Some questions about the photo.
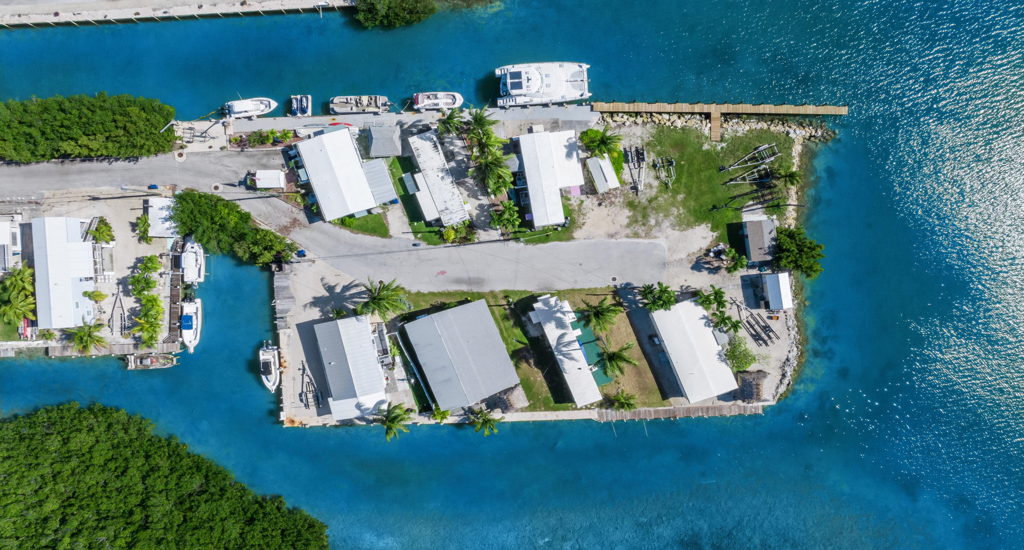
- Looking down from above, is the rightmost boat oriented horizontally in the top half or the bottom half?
top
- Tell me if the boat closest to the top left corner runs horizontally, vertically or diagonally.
horizontally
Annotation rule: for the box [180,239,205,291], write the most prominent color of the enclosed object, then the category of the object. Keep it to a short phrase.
white boat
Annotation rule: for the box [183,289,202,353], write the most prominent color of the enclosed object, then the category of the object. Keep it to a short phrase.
white boat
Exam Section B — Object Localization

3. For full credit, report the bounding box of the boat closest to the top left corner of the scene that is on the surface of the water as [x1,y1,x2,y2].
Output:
[225,93,279,118]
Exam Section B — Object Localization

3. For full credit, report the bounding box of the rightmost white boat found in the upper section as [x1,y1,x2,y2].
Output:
[496,62,592,106]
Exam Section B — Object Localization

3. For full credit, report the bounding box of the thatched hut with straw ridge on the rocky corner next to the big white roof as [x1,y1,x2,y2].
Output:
[735,372,772,405]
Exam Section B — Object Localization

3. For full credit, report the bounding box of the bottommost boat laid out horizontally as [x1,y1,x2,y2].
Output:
[119,354,180,370]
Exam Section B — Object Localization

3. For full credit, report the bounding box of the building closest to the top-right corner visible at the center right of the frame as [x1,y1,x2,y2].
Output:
[739,215,776,261]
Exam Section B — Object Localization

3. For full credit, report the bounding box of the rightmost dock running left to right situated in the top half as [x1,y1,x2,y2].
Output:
[593,101,850,116]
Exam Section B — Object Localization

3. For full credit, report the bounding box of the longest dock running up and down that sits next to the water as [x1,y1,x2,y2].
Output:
[170,240,184,343]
